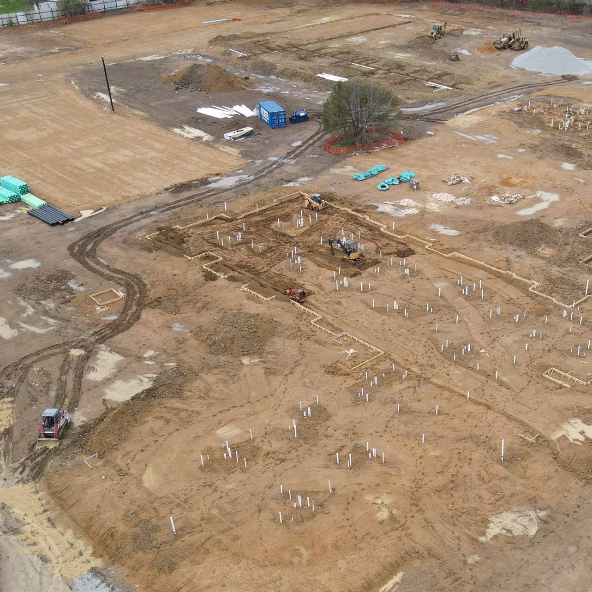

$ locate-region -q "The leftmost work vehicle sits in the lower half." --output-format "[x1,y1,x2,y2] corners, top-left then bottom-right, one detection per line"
[32,407,74,451]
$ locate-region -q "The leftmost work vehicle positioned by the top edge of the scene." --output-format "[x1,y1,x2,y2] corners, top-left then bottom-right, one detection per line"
[427,16,445,40]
